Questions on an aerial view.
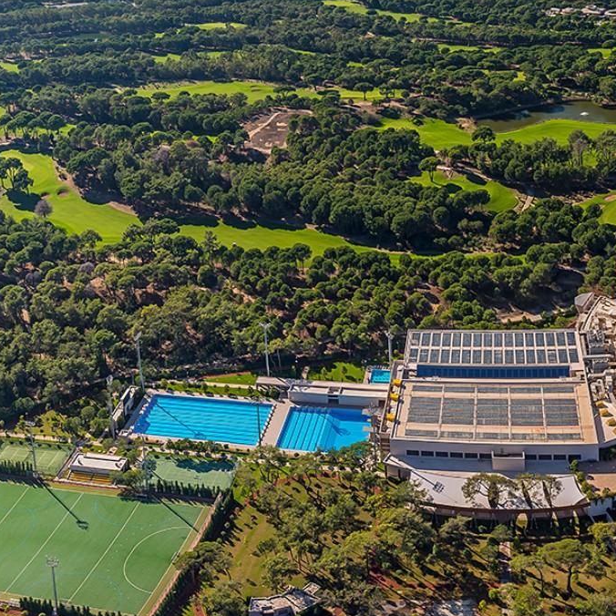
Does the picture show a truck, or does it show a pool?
pool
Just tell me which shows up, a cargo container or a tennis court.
tennis court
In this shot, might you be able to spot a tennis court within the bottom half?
Yes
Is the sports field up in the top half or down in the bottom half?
bottom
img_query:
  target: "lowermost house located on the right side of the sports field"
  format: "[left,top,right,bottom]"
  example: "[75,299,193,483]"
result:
[249,581,321,616]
